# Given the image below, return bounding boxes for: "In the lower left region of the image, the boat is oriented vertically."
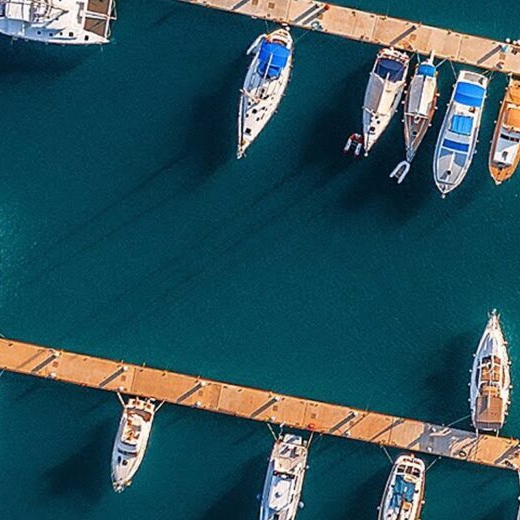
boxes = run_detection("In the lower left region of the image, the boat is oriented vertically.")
[110,393,163,496]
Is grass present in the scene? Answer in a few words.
No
